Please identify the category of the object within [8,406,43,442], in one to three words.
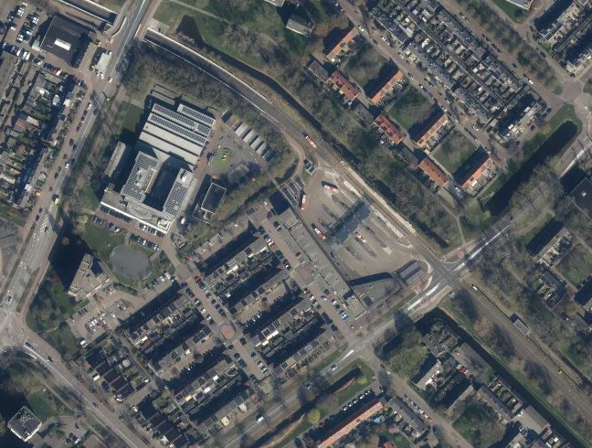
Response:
building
